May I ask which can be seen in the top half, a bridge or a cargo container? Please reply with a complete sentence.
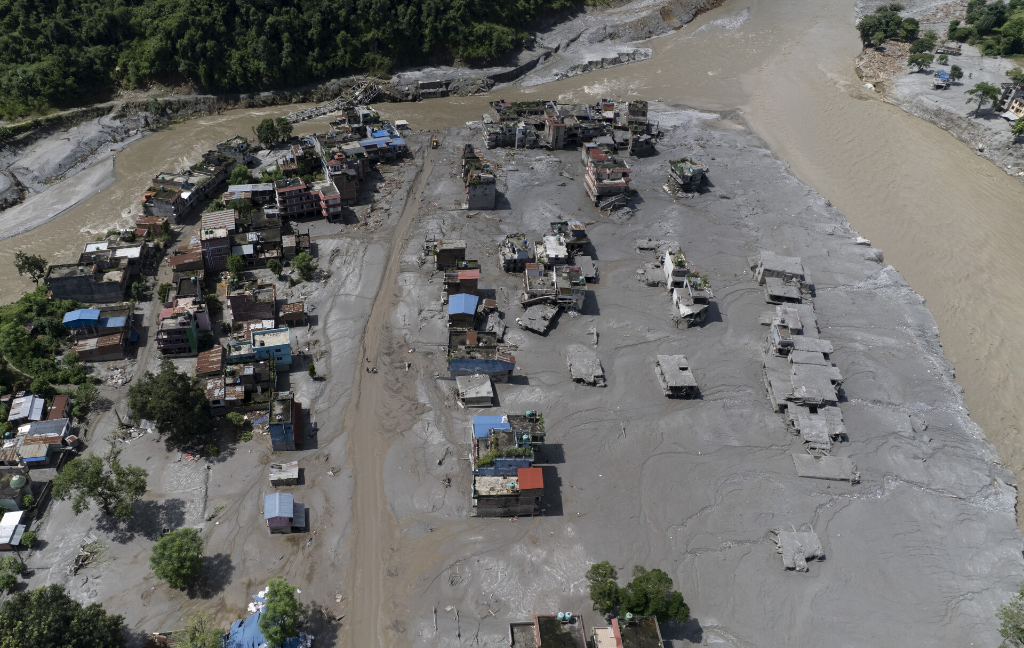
The one visible in the top half is a bridge.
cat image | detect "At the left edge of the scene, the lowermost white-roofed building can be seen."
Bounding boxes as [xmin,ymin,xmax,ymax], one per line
[0,511,29,558]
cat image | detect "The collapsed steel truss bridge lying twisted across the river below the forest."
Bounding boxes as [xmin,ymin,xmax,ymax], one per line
[286,77,388,123]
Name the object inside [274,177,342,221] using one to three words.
building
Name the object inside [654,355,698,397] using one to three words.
house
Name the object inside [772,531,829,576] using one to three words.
house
